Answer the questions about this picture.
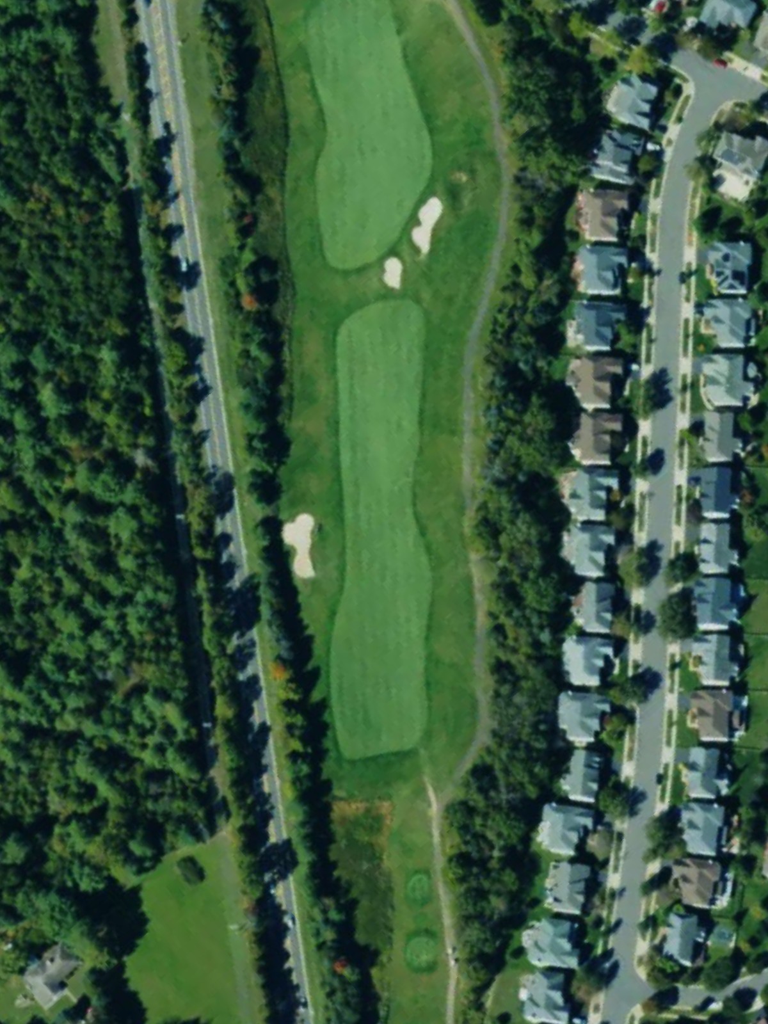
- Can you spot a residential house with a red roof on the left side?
No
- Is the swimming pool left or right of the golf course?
to its right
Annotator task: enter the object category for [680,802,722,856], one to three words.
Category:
house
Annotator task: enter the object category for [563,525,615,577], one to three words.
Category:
house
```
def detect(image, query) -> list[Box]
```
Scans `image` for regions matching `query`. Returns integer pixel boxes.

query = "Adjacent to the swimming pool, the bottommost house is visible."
[664,912,703,966]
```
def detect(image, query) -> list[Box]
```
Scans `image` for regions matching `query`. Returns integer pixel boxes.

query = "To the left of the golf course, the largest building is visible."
[23,941,81,1008]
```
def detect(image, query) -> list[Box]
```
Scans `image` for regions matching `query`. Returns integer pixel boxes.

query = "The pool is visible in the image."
[709,926,736,948]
